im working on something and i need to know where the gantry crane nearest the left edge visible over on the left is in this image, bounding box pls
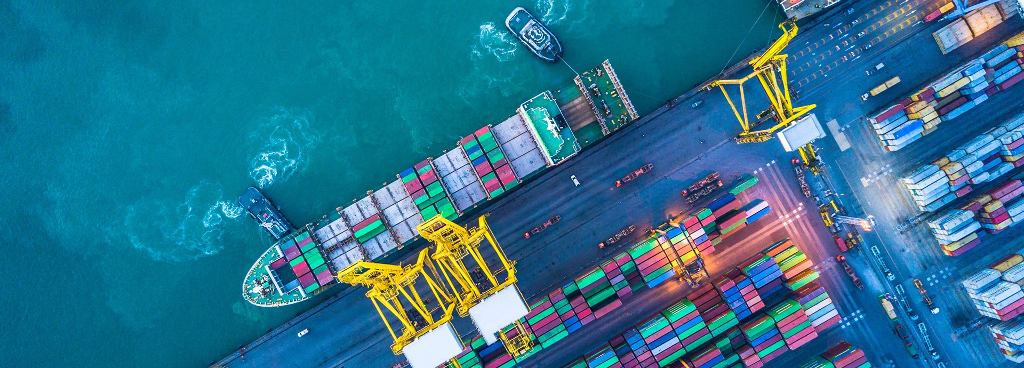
[329,243,464,368]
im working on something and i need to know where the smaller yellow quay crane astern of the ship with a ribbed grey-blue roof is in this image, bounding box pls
[705,5,828,172]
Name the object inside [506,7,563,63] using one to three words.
boat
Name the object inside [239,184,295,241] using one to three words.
boat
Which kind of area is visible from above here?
port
